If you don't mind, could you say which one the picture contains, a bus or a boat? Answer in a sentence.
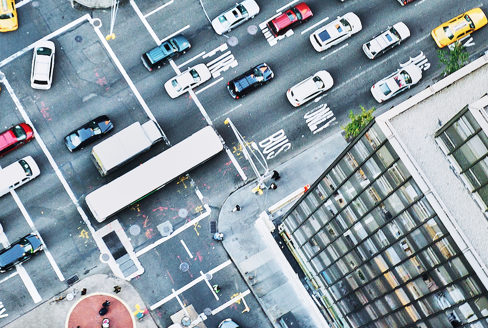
The one in the frame is a bus.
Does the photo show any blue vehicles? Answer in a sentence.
Yes, there is a blue vehicle in the image.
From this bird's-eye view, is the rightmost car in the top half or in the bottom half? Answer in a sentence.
You can find the rightmost car in the top half.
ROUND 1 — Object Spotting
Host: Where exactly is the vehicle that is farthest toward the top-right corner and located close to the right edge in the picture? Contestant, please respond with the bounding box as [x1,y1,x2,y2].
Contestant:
[430,8,487,50]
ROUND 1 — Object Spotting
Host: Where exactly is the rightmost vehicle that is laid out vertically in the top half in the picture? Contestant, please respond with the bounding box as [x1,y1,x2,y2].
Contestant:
[31,42,55,90]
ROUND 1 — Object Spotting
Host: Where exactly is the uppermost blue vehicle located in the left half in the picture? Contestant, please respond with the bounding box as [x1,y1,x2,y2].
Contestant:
[142,33,191,71]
